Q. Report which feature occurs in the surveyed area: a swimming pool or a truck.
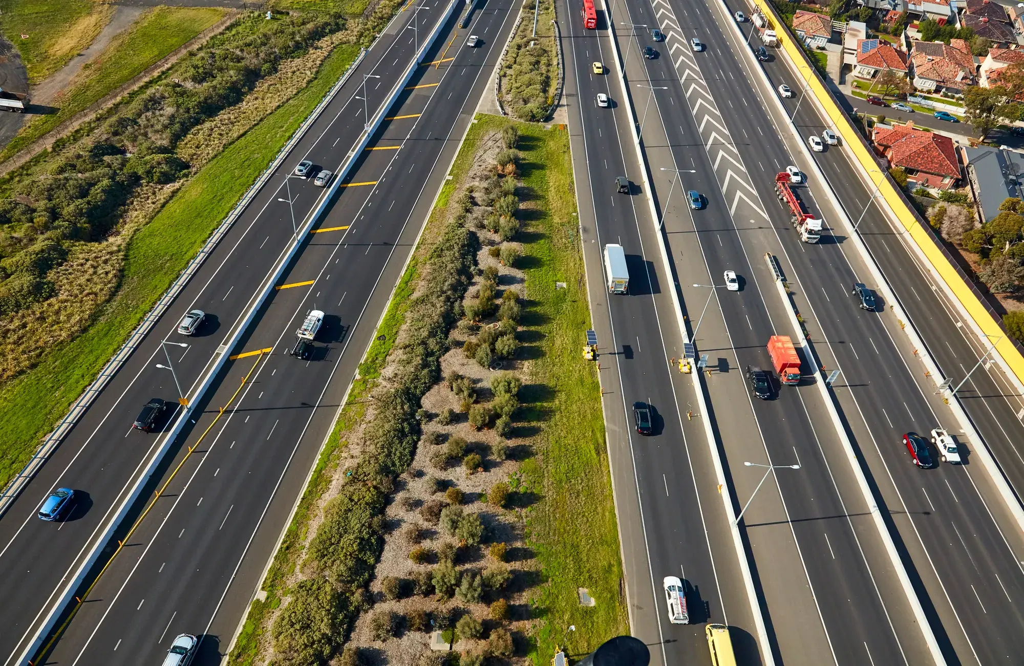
truck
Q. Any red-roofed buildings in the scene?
Yes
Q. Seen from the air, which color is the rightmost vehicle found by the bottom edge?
yellow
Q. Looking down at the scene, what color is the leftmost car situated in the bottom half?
blue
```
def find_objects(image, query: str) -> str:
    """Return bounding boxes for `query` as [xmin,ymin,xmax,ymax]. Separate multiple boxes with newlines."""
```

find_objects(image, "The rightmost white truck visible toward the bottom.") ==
[930,428,961,466]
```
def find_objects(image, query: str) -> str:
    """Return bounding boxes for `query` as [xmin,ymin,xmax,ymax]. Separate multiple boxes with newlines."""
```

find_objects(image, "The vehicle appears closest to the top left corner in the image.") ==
[0,92,31,115]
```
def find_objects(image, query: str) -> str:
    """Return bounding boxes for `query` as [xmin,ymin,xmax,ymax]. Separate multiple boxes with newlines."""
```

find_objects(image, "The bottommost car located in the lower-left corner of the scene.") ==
[161,629,200,666]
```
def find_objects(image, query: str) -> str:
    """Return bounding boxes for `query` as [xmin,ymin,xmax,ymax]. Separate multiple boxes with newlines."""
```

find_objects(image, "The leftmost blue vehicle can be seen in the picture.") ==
[34,486,75,525]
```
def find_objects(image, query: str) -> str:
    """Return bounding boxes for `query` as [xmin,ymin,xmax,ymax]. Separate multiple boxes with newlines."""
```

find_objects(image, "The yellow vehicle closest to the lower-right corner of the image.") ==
[709,629,744,666]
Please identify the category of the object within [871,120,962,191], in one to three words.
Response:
house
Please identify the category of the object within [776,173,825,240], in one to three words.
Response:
truck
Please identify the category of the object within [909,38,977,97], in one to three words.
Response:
house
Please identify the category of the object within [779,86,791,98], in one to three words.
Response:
vehicle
